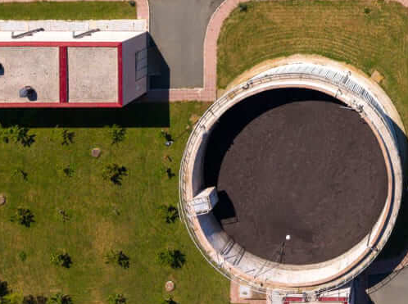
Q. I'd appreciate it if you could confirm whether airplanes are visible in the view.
No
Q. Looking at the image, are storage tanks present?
Yes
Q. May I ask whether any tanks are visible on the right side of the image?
Yes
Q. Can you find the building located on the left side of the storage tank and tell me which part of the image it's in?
top left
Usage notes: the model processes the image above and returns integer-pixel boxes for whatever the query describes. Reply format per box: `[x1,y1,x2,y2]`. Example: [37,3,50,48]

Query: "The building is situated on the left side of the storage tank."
[0,29,146,108]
